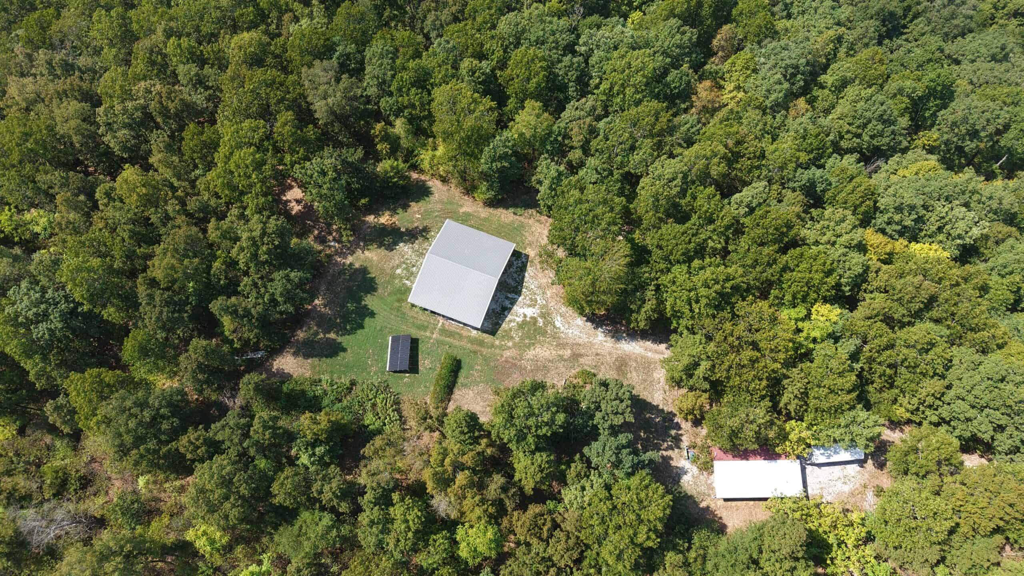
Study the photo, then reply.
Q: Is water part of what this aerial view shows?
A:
No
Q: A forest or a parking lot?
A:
forest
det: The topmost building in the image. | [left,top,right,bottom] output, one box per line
[407,219,517,332]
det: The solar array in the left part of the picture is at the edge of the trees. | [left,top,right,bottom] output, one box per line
[387,333,409,371]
